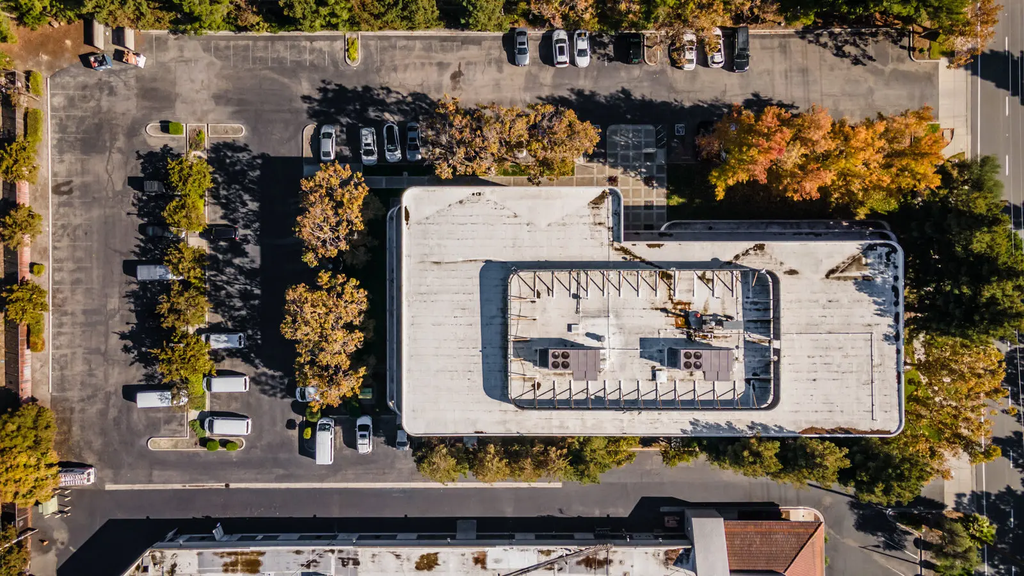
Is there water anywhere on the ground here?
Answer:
No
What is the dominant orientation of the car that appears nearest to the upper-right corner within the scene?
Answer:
vertically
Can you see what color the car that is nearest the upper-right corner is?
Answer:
black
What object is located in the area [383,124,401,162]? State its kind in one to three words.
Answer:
car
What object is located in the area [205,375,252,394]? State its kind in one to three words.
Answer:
vehicle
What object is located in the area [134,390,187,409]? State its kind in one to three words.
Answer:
vehicle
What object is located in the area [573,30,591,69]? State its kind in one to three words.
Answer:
car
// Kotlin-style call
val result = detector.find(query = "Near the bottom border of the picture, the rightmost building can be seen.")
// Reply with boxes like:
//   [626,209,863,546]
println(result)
[724,519,827,576]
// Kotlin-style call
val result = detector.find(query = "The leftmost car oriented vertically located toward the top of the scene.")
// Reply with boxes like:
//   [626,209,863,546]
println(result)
[318,125,336,162]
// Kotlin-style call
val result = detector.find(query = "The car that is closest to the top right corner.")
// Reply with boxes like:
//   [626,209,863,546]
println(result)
[731,28,751,73]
